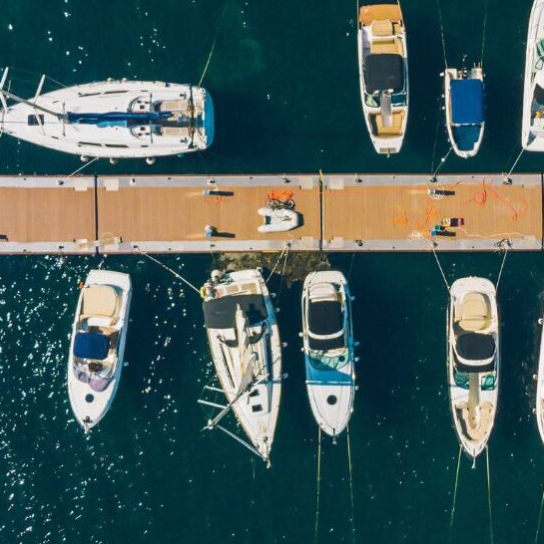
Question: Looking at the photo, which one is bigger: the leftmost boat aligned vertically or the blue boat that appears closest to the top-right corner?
the leftmost boat aligned vertically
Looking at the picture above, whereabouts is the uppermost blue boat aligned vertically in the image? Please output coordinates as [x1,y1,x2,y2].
[445,57,484,160]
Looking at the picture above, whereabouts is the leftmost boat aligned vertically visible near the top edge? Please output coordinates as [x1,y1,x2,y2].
[359,6,409,159]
